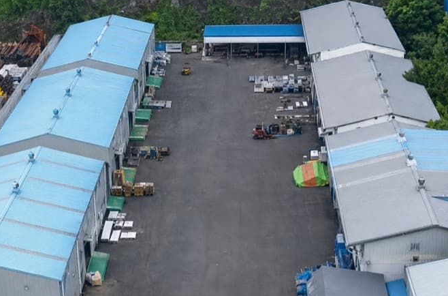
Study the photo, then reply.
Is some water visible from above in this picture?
No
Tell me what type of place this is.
industrial area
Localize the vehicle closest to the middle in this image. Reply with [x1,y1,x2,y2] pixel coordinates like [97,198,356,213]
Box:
[250,118,278,138]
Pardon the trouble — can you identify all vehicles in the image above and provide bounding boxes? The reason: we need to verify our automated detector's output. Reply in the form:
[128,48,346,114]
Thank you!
[250,118,278,138]
[182,61,190,77]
